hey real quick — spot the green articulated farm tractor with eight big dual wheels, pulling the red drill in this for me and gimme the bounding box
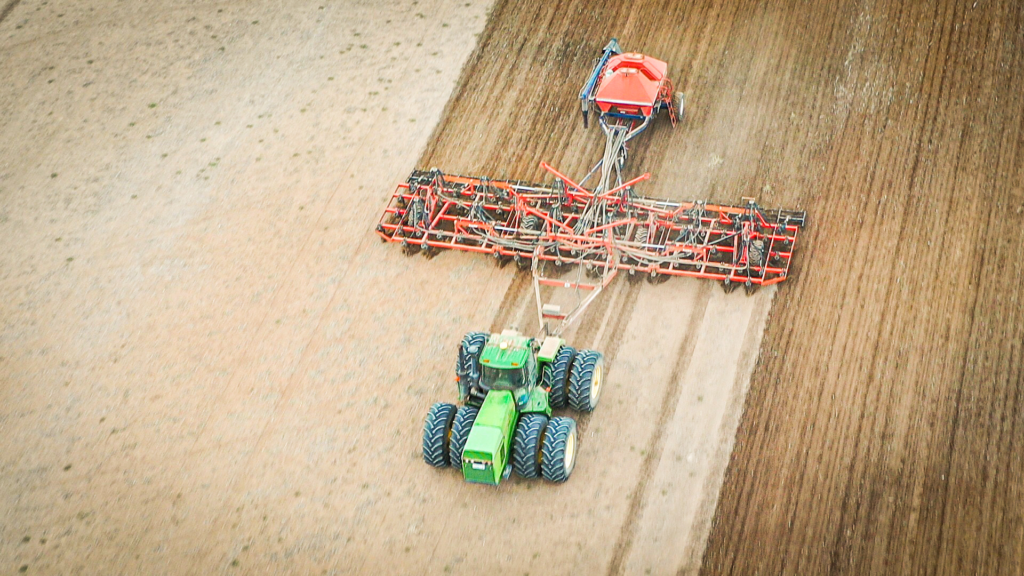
[421,325,604,488]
